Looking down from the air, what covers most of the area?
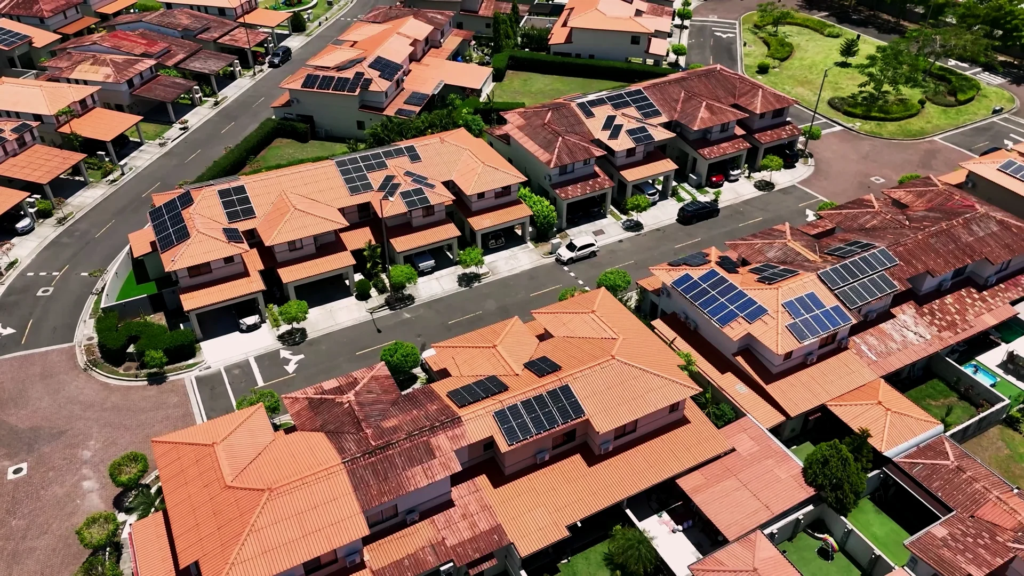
buildings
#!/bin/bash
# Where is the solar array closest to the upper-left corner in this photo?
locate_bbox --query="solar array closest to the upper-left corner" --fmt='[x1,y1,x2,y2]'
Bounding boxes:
[0,27,31,48]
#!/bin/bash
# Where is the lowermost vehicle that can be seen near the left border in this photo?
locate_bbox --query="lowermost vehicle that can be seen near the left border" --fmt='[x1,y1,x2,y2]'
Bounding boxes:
[0,208,43,234]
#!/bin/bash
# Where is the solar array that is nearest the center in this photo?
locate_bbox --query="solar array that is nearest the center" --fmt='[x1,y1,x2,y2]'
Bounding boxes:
[524,356,561,374]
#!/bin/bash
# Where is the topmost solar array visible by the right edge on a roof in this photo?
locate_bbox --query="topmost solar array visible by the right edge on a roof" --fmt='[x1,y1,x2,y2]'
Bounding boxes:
[998,160,1024,180]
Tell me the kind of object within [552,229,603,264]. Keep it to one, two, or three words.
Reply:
car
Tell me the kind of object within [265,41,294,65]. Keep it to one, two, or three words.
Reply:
car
